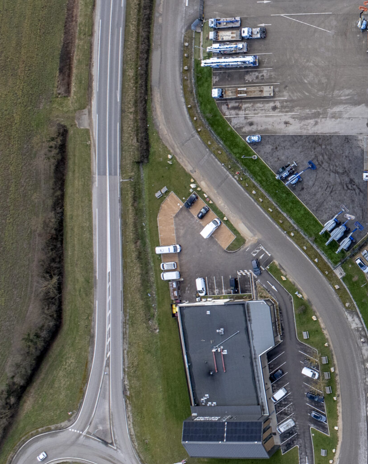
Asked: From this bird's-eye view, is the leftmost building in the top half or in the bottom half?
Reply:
bottom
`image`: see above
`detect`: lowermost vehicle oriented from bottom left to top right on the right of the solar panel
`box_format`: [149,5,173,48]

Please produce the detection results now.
[277,418,296,434]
